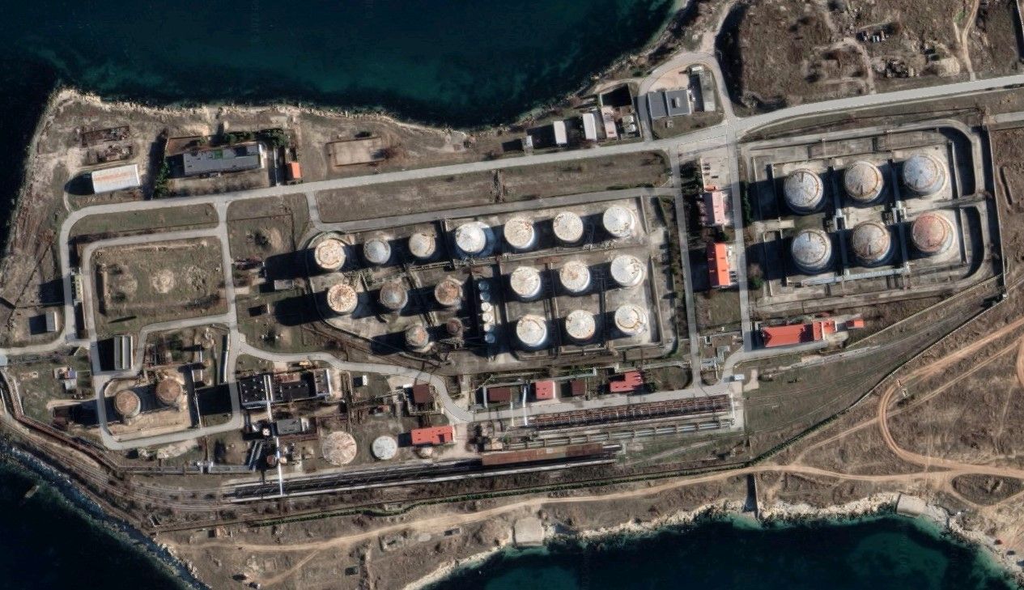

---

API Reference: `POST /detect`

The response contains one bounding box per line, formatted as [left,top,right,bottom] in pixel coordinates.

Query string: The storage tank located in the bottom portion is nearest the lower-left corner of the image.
[115,390,143,419]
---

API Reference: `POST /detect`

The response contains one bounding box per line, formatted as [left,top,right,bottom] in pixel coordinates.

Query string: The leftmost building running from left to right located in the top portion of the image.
[91,165,142,194]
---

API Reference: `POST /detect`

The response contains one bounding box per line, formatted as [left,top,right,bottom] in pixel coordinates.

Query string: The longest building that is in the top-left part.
[184,143,261,177]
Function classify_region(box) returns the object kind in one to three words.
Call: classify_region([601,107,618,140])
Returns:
shed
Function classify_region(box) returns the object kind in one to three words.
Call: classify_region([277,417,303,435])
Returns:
building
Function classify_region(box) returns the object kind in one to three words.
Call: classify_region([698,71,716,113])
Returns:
building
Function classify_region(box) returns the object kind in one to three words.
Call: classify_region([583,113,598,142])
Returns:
shed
